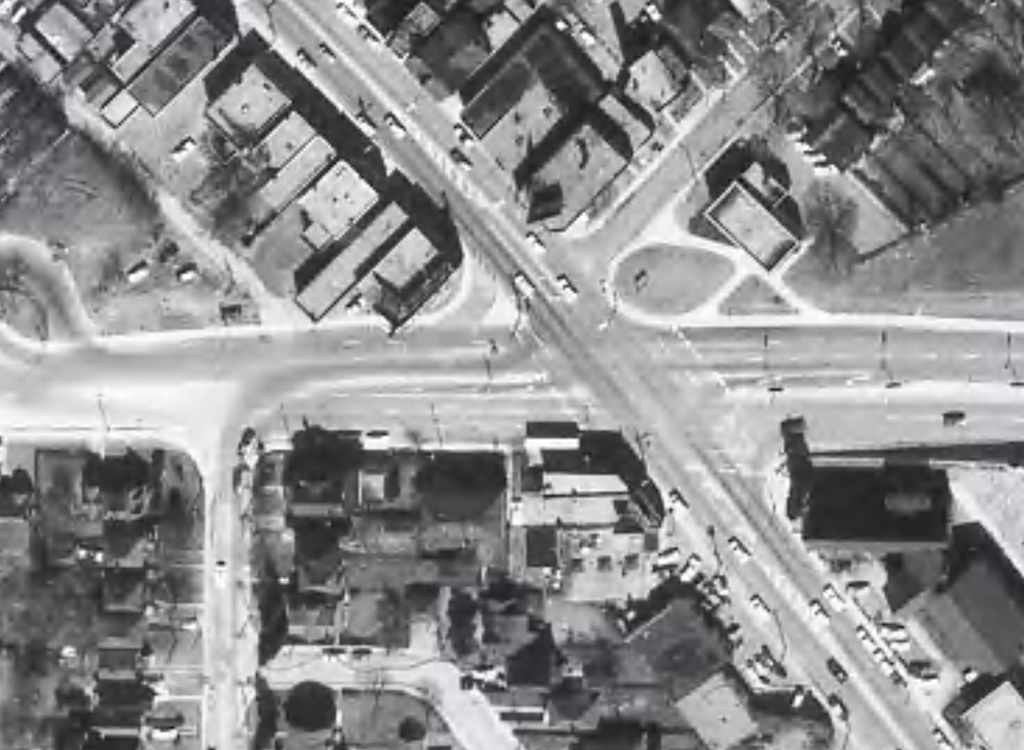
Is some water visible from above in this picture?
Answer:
No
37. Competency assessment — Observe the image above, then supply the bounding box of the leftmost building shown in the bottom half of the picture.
[0,518,31,560]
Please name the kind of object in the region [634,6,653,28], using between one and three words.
vehicle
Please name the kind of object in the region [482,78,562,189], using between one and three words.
building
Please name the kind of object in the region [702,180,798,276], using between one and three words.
gas station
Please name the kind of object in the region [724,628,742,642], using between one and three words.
car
